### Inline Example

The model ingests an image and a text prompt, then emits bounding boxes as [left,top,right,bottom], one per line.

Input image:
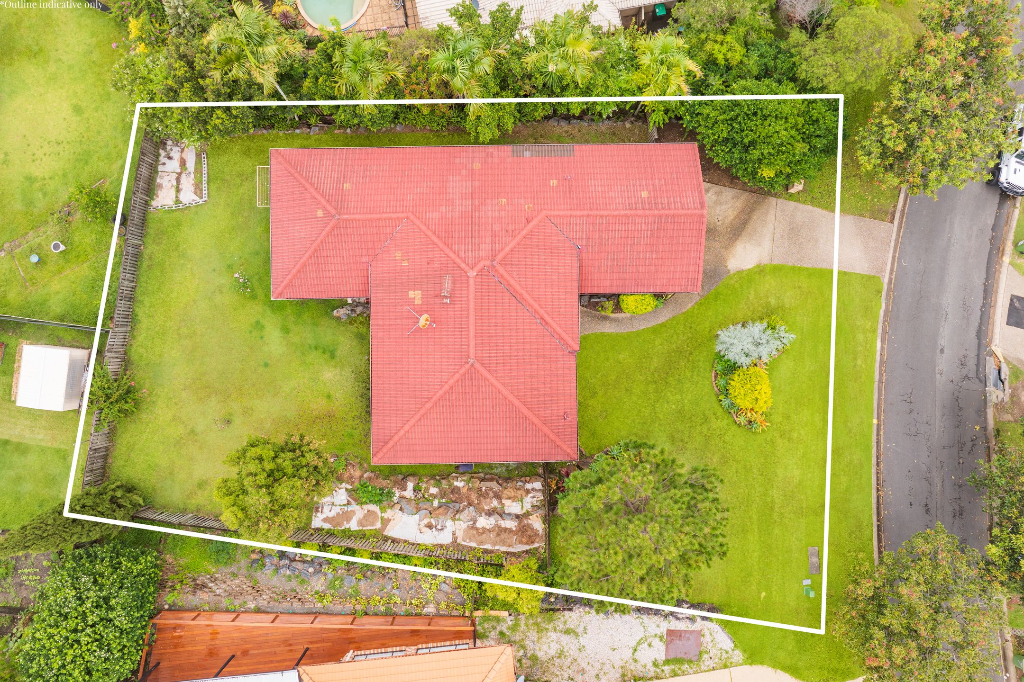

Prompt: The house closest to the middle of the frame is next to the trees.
[267,140,710,466]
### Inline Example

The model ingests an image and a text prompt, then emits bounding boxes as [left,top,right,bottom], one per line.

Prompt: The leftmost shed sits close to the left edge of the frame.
[16,345,91,411]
